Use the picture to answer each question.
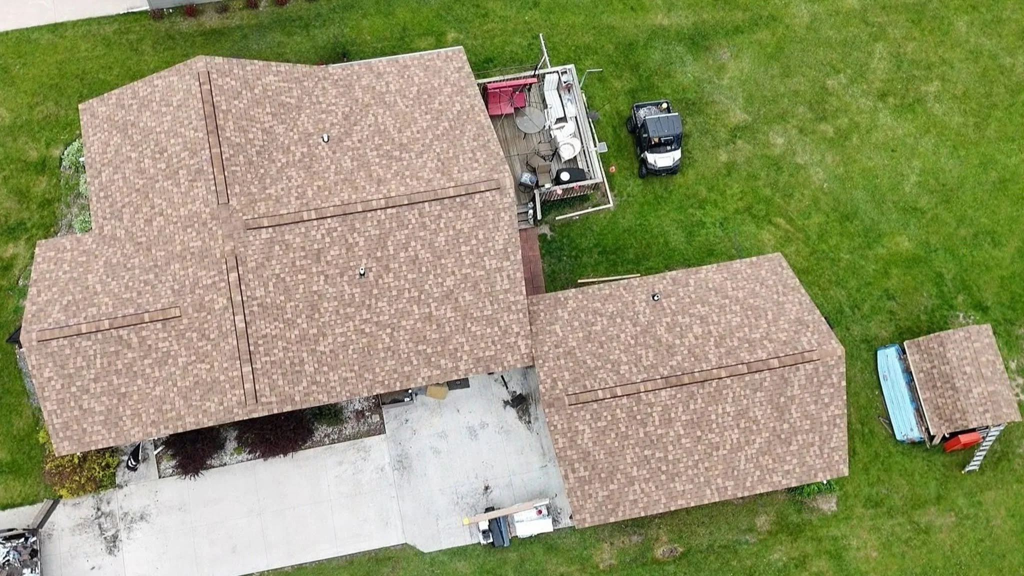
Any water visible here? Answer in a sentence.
No, there's no water in this view.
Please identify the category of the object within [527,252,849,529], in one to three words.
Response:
building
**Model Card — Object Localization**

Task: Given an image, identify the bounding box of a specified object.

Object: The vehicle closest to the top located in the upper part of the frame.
[627,100,682,179]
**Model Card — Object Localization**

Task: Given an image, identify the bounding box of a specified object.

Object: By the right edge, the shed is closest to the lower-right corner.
[894,324,1021,448]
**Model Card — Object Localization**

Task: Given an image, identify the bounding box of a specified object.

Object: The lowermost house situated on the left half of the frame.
[8,46,535,456]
